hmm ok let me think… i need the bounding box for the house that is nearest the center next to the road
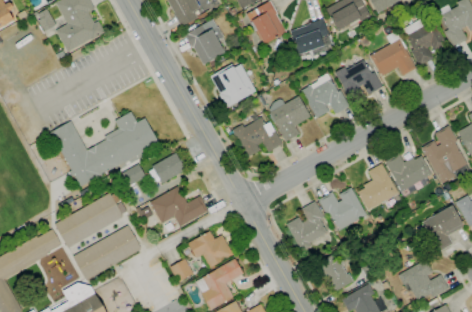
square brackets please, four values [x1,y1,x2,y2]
[234,116,282,160]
